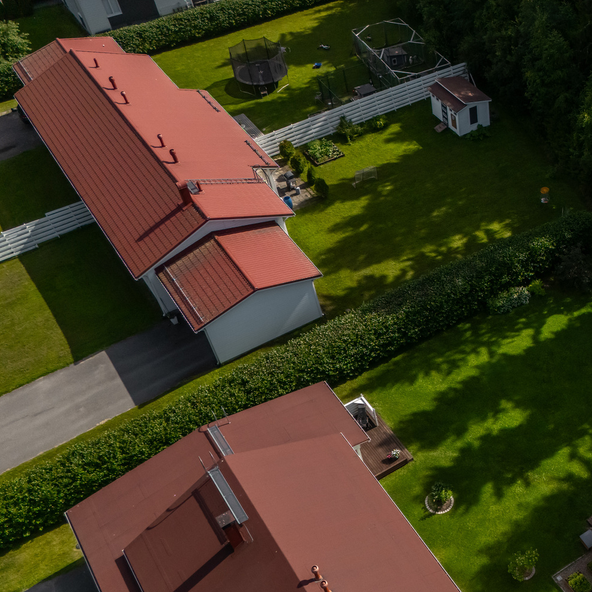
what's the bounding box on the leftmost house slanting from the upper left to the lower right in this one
[11,35,326,357]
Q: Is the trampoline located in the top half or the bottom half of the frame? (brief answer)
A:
top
